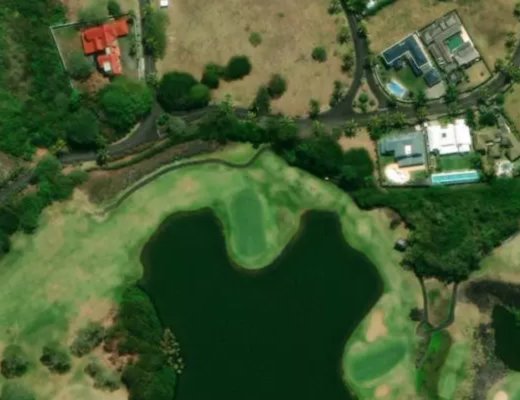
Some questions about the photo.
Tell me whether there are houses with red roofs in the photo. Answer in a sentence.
Yes, a house with a red roof can be made out from above.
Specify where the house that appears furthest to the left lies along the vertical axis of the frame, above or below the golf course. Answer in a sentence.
The house that appears furthest to the left is found above the golf course in the photo.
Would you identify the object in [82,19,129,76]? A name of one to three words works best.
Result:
house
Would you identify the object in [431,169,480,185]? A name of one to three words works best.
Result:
swimming pool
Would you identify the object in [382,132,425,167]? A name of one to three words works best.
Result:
house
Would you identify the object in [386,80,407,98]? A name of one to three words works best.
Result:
swimming pool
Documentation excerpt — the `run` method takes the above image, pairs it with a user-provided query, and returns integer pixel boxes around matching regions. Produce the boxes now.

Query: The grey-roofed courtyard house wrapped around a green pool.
[419,13,481,71]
